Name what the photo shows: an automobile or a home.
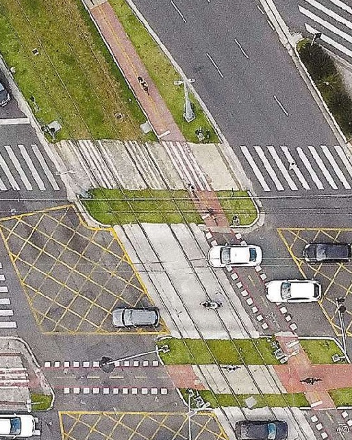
automobile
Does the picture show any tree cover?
No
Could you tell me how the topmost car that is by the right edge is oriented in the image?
horizontally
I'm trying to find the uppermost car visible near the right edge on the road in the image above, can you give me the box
[303,239,351,264]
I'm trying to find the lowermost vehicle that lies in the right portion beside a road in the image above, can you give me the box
[235,419,287,440]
